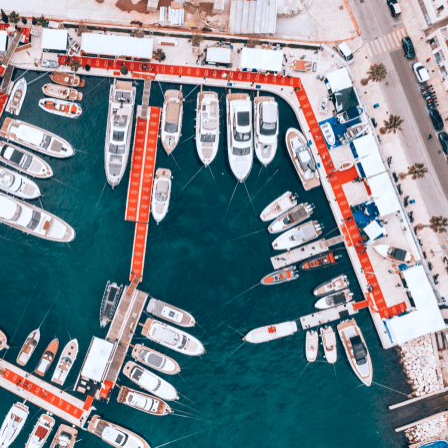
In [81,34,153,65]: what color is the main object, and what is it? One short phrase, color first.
white tent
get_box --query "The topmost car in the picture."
[385,0,401,20]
